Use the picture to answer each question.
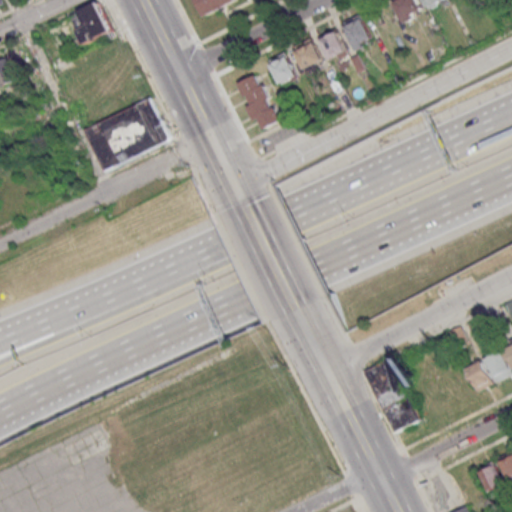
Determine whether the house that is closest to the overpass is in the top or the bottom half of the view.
top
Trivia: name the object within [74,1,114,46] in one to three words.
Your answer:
building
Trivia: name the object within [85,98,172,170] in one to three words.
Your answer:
building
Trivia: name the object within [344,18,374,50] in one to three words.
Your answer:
house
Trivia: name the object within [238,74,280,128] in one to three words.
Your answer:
house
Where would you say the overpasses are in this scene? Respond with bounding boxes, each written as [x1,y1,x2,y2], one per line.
[189,144,348,356]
